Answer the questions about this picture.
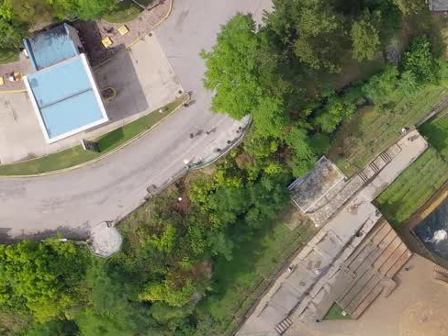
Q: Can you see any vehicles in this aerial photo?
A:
No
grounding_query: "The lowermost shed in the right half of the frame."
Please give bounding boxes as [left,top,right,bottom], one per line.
[288,157,350,213]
